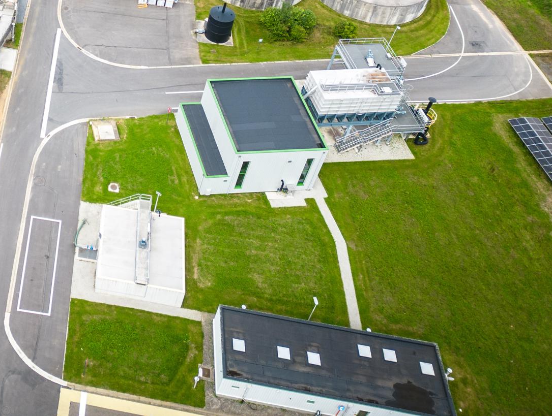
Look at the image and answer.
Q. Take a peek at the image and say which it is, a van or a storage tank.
storage tank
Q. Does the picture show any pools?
No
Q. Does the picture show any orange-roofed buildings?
No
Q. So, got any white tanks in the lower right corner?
No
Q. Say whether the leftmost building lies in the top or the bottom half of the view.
top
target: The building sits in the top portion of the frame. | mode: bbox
[176,76,328,198]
